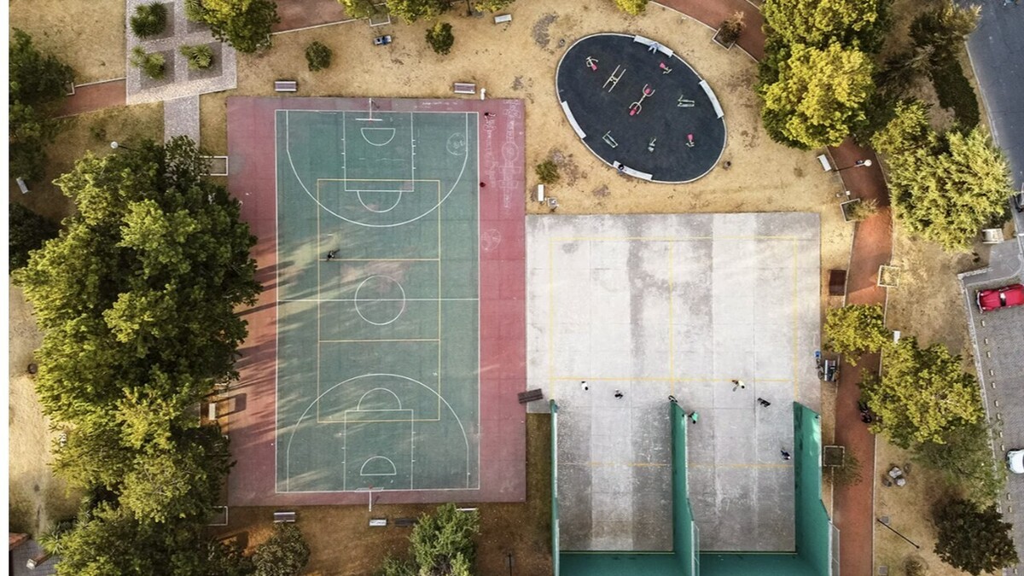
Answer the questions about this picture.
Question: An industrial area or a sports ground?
sports ground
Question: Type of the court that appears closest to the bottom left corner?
basketball court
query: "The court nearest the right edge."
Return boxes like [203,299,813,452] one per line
[527,214,821,553]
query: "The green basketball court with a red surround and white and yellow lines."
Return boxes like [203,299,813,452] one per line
[227,97,525,506]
